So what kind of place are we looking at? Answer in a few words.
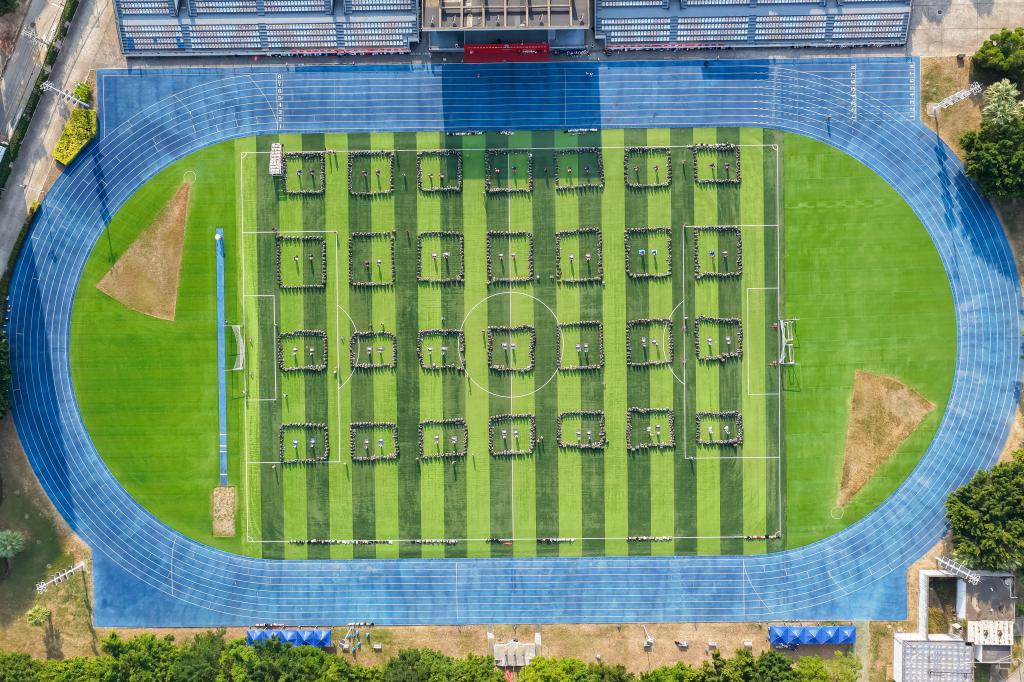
sports ground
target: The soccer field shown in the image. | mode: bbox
[235,128,787,561]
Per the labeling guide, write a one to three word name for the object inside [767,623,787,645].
tent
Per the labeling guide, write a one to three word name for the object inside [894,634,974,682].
building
